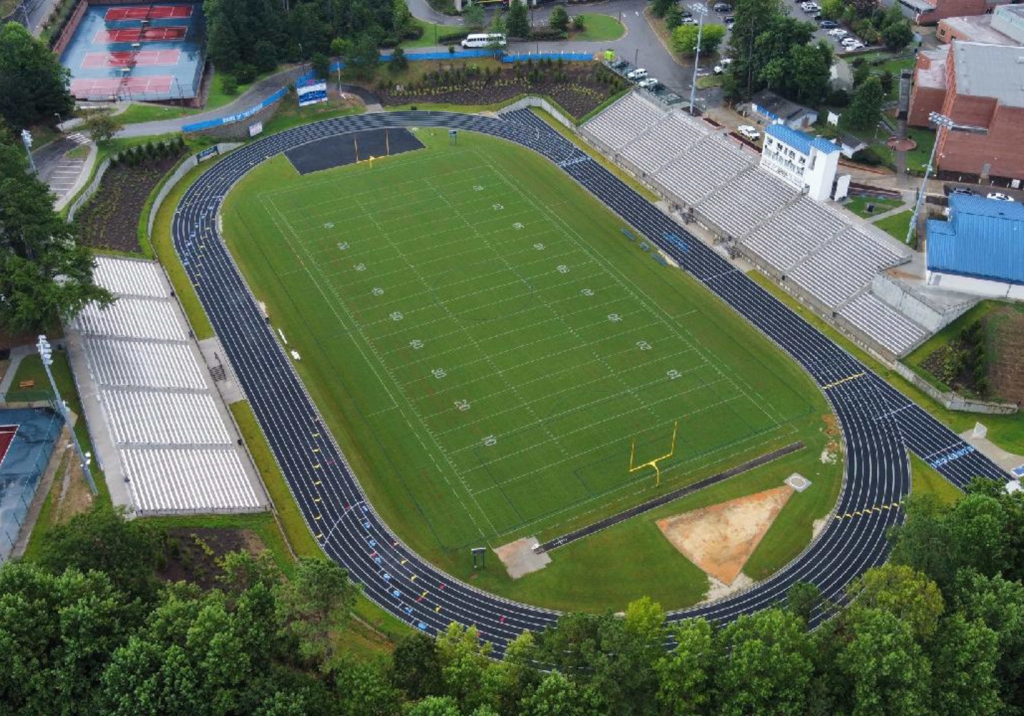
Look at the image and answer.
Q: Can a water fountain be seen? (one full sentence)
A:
No, I can see no water fountain in this picture.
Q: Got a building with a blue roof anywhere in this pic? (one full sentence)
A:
Yes, this view includes a building with a blue roof.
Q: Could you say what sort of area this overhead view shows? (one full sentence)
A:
What you see here is a sports ground.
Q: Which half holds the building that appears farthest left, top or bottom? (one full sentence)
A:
The top half of the photo is where the building that appears farthest left is.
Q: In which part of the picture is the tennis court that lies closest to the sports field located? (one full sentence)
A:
The tennis court that lies closest to the sports field is located in the top left region of the scene.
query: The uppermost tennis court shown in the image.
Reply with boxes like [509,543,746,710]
[46,3,207,109]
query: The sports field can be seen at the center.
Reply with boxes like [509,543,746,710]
[246,142,813,563]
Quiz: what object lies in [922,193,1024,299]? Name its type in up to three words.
building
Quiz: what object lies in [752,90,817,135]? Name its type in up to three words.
building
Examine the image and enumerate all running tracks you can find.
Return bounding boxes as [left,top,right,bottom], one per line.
[171,107,1024,680]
